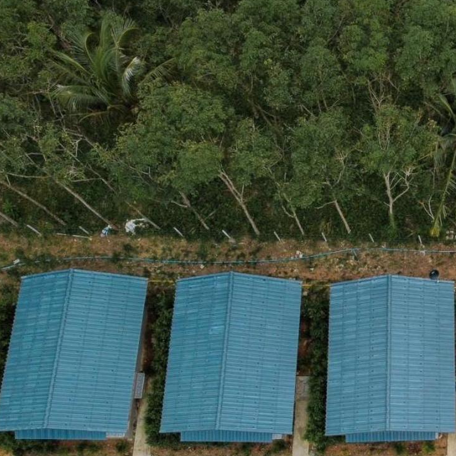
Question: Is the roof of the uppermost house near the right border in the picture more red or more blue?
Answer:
blue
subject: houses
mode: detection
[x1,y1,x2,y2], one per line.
[0,269,155,441]
[323,275,456,443]
[157,272,306,443]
